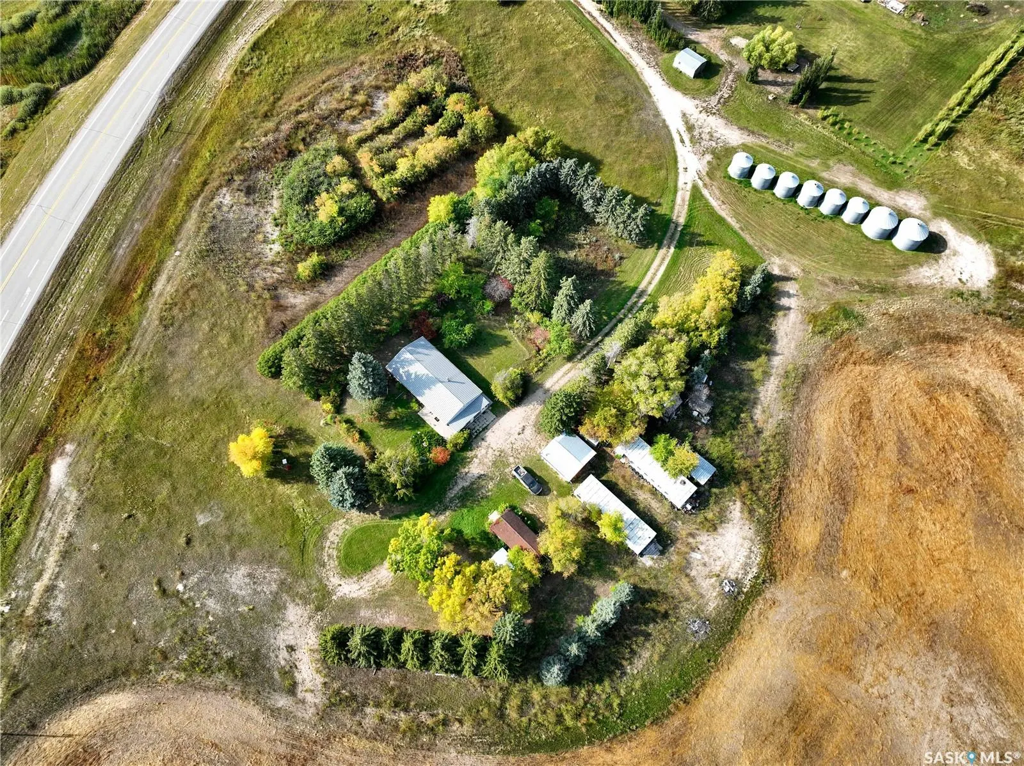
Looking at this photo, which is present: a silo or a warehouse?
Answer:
silo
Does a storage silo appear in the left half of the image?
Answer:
No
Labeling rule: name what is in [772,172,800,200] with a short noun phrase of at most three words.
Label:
silo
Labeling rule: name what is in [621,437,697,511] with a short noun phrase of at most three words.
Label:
house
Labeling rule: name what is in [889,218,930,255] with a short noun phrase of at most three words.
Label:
silo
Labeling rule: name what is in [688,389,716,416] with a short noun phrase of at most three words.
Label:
shed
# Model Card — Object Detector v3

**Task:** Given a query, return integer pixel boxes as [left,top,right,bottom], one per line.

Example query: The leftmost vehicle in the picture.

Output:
[509,462,545,499]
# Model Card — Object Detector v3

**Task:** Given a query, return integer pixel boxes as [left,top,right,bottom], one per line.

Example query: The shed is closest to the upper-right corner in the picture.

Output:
[673,46,709,78]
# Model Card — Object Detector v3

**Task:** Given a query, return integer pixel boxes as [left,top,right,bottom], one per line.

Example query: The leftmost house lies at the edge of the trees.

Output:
[385,337,491,435]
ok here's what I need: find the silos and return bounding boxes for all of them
[889,218,930,255]
[840,196,870,225]
[772,172,800,200]
[818,188,847,217]
[795,179,824,209]
[727,151,753,180]
[750,163,776,192]
[861,208,899,243]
